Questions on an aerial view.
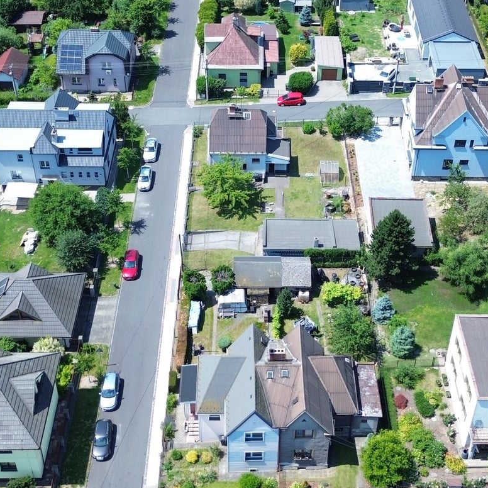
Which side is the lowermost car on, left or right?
left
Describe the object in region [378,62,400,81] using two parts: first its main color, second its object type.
white car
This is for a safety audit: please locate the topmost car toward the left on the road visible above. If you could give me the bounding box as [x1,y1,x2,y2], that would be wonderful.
[141,134,159,158]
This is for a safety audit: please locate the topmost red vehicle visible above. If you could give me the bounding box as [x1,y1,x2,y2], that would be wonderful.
[278,92,304,105]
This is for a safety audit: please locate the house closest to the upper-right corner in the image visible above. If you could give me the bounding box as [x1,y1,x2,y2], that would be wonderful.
[410,0,486,78]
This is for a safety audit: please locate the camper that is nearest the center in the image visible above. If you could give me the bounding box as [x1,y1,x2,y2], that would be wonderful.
[217,289,248,317]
